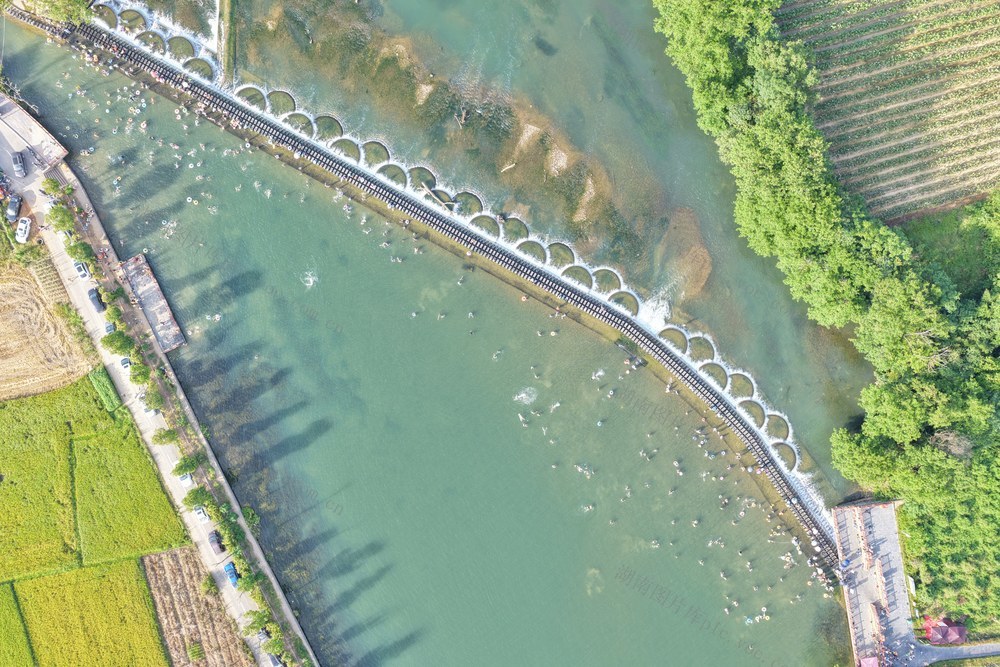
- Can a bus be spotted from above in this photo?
No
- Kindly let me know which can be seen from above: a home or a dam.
dam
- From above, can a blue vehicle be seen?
Yes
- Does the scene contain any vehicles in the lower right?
No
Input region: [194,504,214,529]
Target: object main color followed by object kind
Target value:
white car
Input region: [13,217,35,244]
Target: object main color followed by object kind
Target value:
white car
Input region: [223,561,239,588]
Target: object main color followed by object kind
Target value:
blue car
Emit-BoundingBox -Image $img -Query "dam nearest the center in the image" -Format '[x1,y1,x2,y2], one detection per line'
[70,3,840,564]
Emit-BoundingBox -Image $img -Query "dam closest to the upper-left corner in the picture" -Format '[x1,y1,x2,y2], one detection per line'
[0,7,79,57]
